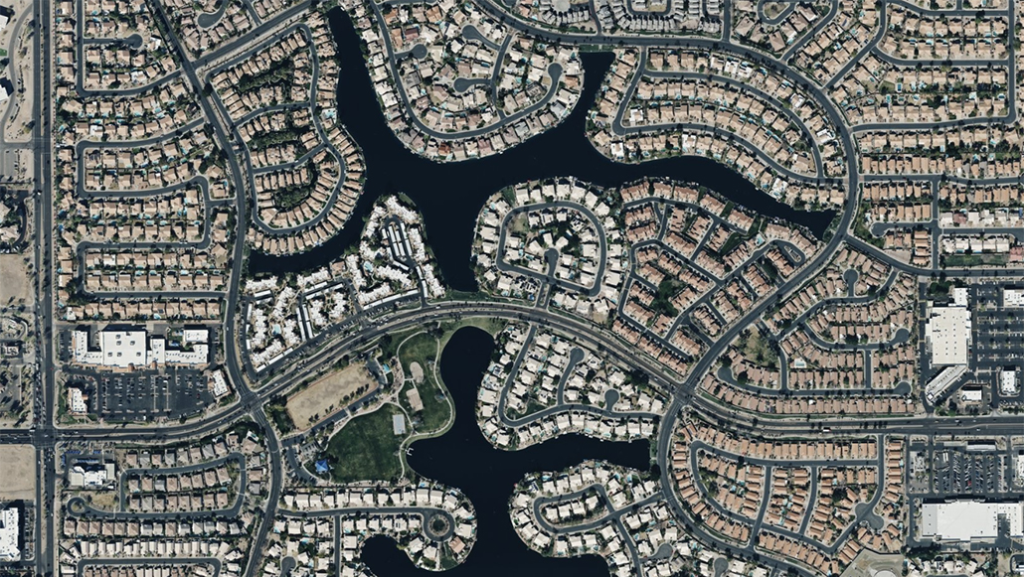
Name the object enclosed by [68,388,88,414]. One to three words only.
building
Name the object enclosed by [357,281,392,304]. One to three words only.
building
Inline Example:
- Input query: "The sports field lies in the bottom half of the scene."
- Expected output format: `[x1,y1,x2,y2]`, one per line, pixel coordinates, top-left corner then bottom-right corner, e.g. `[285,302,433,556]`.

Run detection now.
[288,365,377,428]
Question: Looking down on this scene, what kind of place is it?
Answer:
residential area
